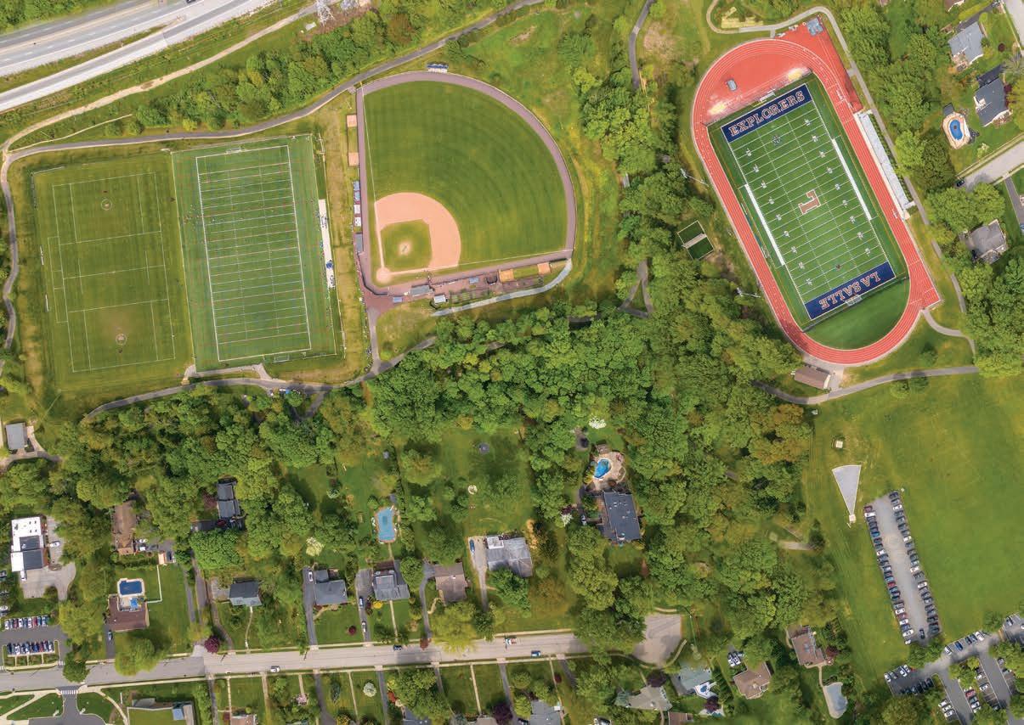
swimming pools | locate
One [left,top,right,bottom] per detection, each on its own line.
[592,452,625,491]
[823,682,848,718]
[375,506,397,544]
[943,112,971,149]
[118,579,144,610]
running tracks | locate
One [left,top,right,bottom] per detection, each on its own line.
[687,17,940,367]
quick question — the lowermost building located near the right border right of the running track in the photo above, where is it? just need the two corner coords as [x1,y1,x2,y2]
[967,219,1006,259]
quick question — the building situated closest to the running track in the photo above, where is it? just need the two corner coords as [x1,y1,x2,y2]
[795,366,831,388]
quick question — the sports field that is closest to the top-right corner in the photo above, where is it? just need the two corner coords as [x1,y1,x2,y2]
[706,75,907,349]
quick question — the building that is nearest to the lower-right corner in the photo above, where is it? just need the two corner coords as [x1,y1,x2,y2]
[792,633,825,666]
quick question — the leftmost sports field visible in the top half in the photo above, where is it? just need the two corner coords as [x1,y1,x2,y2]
[34,153,194,397]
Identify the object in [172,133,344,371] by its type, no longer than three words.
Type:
sports field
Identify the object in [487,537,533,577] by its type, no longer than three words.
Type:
house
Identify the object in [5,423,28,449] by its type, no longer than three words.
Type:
shed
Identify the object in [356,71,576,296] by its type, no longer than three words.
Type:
baseball field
